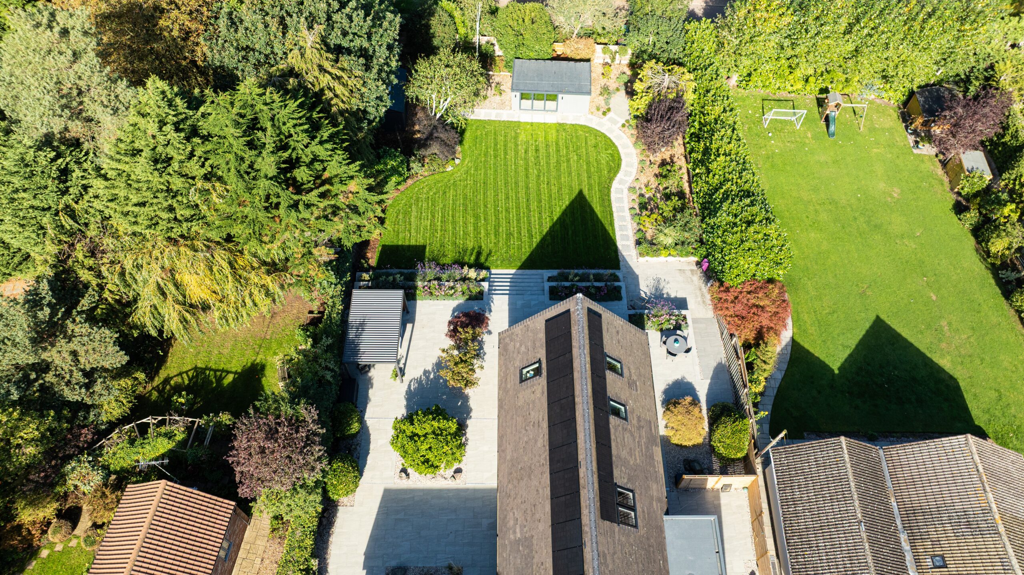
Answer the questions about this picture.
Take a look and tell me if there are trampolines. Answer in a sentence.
No, the frame has no trampoline in it.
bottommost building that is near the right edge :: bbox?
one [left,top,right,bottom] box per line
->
[760,434,1024,575]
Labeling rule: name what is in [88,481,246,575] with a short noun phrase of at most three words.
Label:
building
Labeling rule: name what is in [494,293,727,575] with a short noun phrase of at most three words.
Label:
house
